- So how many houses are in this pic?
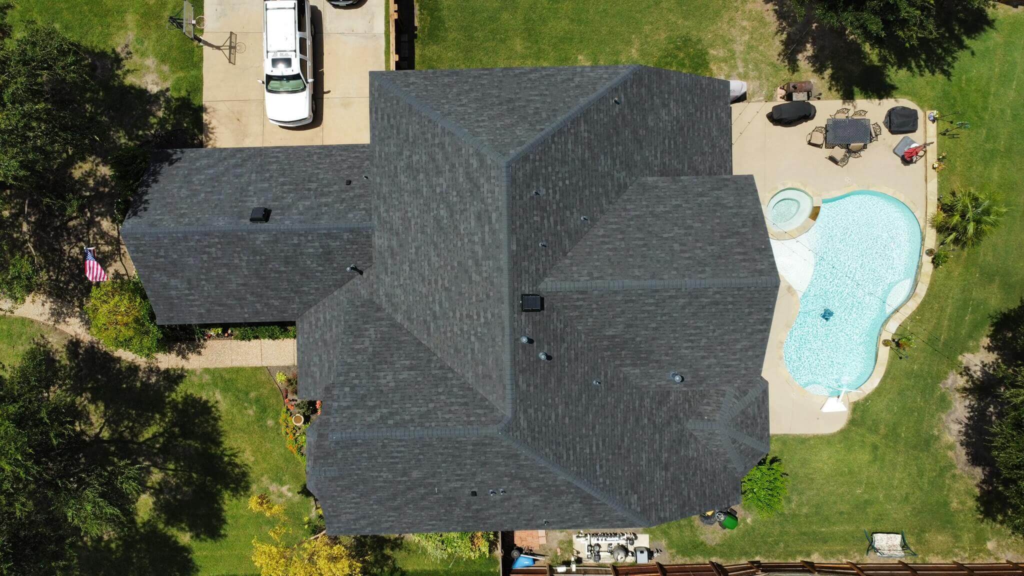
one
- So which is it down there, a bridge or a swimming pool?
swimming pool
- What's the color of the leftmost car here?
white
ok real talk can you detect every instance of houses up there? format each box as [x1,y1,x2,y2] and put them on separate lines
[124,64,780,534]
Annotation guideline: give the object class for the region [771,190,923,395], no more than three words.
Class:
swimming pool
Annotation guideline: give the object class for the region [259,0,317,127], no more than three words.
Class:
car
